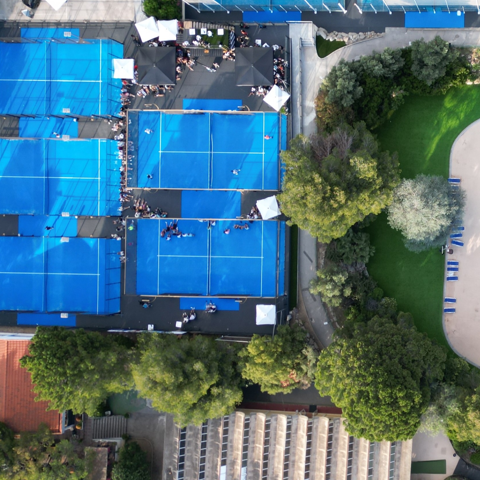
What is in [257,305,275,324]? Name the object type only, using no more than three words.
umbrella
